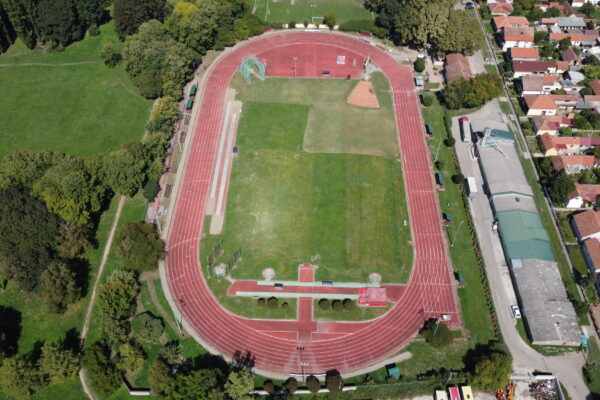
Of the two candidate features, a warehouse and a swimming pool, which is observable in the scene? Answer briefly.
warehouse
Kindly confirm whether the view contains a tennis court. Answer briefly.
No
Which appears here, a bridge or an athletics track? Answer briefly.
athletics track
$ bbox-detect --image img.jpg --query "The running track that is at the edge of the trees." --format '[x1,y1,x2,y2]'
[159,30,468,383]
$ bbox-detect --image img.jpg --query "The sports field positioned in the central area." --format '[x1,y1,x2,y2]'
[198,51,414,322]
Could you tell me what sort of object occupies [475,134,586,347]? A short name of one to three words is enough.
warehouse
